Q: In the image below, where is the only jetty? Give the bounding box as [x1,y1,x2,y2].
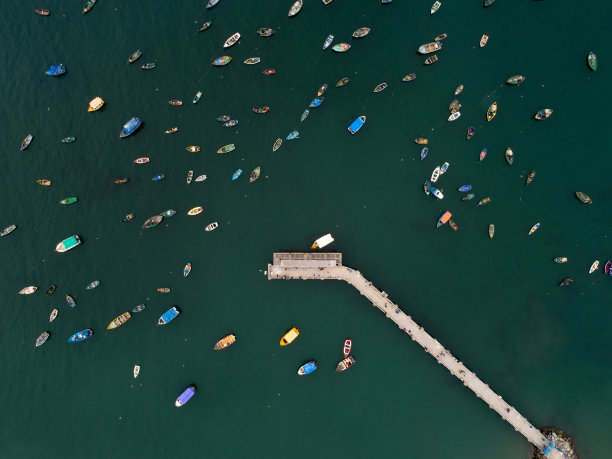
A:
[268,252,571,459]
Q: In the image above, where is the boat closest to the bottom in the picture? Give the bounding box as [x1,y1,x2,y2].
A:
[175,384,197,407]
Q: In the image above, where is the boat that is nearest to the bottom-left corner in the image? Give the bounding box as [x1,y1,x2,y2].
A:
[35,332,50,347]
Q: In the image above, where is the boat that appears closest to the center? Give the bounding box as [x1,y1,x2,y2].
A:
[312,232,335,249]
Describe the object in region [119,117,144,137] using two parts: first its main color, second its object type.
blue boat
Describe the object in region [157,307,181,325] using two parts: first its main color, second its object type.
blue boat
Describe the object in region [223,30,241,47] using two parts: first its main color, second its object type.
white boat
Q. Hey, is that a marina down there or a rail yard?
marina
